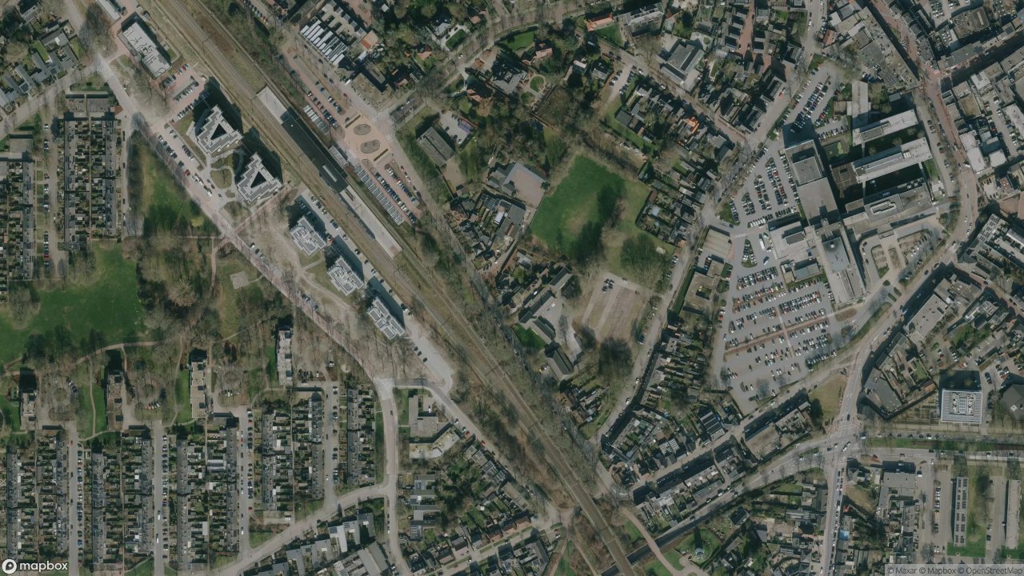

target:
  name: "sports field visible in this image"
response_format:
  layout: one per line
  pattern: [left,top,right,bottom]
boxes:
[530,155,623,260]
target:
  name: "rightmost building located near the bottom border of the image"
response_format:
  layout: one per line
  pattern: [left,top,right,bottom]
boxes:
[1007,474,1020,550]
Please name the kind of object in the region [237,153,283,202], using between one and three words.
building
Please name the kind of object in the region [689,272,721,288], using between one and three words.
building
